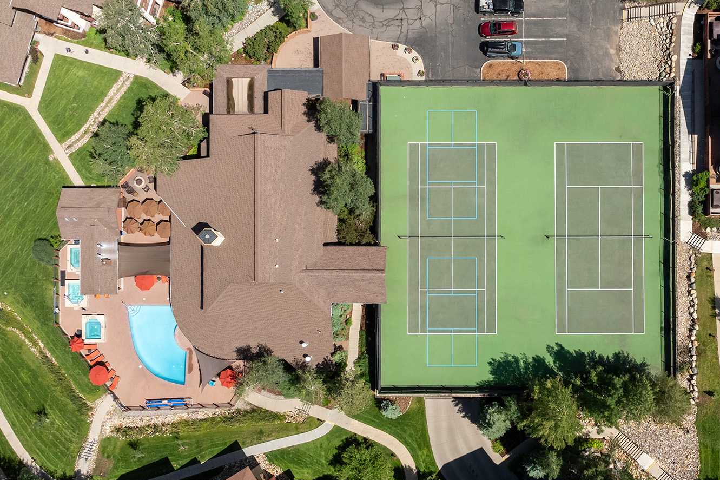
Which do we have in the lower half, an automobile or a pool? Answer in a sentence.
There is a pool in the lower half.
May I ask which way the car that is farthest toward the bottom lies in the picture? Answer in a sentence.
I'd say the car that is farthest toward the bottom is aligned from side to side in the picture.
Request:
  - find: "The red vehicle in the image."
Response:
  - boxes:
[479,17,517,38]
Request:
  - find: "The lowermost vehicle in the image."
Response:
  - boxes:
[481,38,521,58]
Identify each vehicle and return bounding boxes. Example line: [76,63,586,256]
[479,17,517,38]
[481,38,521,58]
[478,0,524,14]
